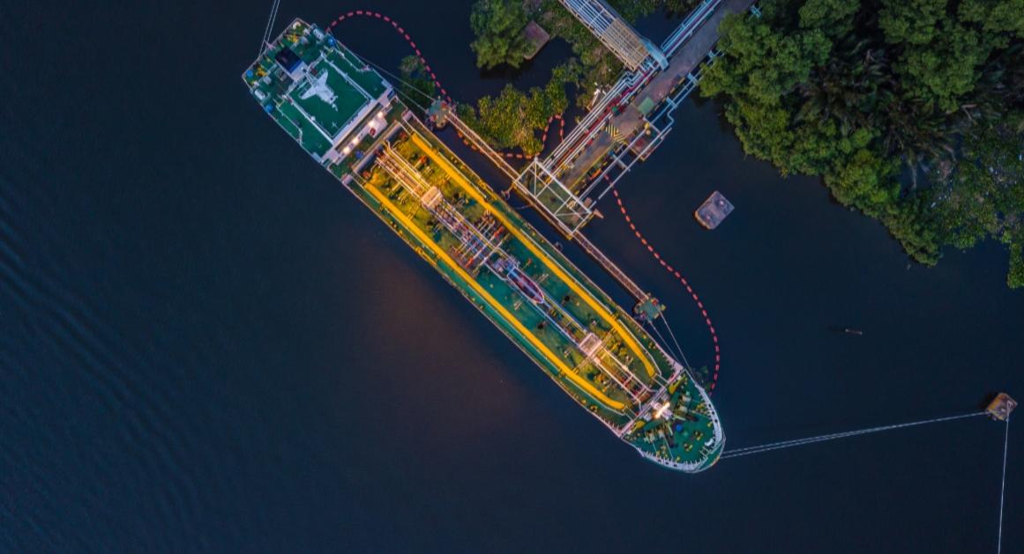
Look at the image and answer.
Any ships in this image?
Yes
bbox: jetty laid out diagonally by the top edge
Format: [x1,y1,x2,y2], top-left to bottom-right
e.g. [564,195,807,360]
[556,0,767,195]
